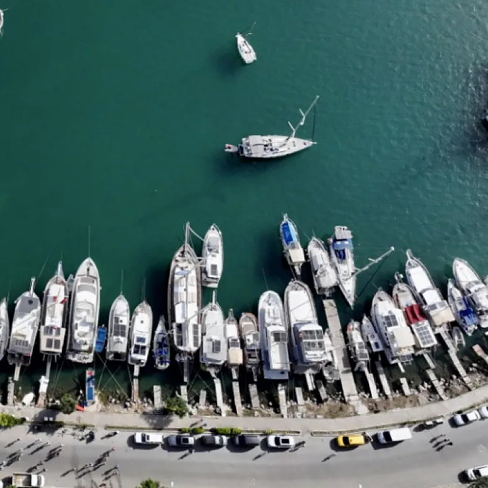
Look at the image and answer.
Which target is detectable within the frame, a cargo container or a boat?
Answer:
boat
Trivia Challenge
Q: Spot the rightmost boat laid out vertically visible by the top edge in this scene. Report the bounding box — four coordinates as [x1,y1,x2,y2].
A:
[238,23,255,67]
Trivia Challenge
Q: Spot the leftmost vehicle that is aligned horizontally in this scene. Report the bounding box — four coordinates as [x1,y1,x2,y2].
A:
[10,471,46,487]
